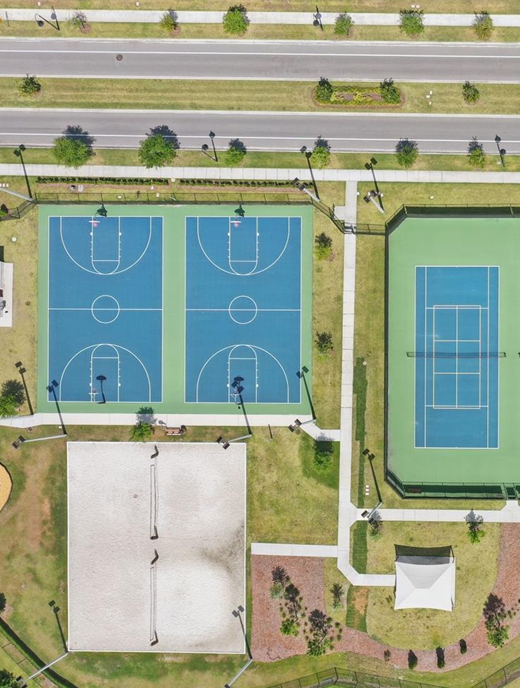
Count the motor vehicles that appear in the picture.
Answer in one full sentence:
The picture shows no motor vehicles.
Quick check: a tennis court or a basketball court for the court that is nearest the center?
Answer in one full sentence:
Looking closely, the court that is nearest the center is a basketball court.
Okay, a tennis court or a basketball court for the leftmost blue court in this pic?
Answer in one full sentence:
What you see as the leftmost blue court is a basketball court.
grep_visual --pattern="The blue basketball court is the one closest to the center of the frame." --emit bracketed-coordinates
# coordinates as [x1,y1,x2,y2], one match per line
[174,204,312,414]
